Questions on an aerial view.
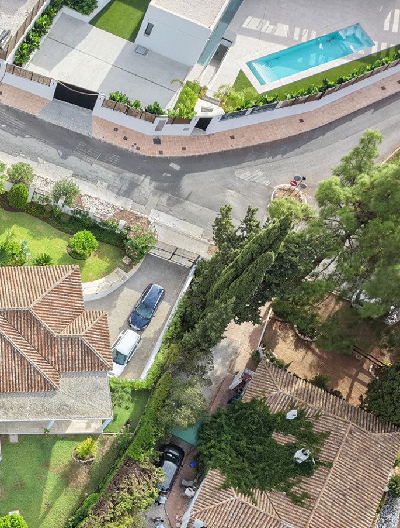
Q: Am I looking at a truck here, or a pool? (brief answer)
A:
pool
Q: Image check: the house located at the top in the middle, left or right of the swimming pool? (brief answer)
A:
to the left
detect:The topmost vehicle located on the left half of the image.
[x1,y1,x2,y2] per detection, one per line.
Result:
[129,280,165,327]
